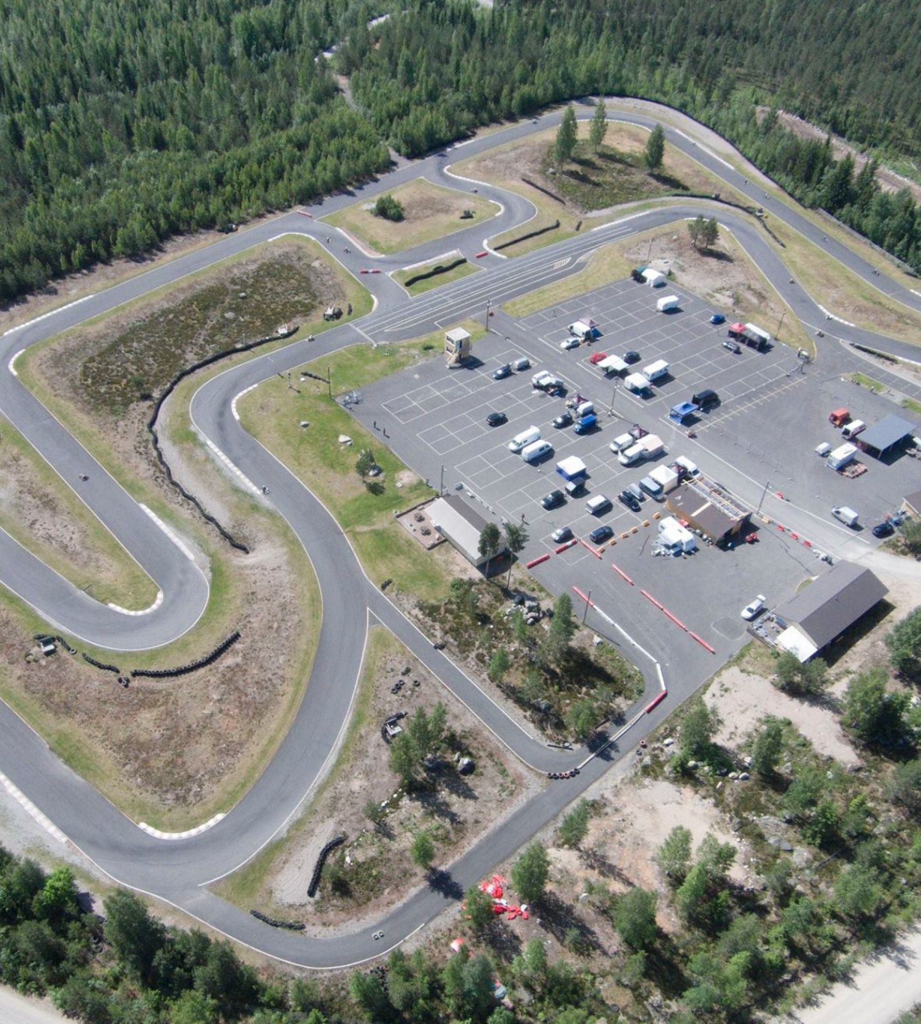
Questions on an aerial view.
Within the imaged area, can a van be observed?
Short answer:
Yes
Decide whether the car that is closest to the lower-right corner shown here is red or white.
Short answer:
white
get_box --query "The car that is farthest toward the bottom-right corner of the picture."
[737,589,772,622]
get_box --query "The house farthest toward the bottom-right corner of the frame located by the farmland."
[769,565,890,662]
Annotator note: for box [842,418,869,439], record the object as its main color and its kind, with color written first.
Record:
white vehicle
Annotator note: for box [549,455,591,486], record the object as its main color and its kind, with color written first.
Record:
white tent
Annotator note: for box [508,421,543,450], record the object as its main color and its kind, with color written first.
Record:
white van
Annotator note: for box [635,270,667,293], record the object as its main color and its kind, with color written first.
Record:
white tent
